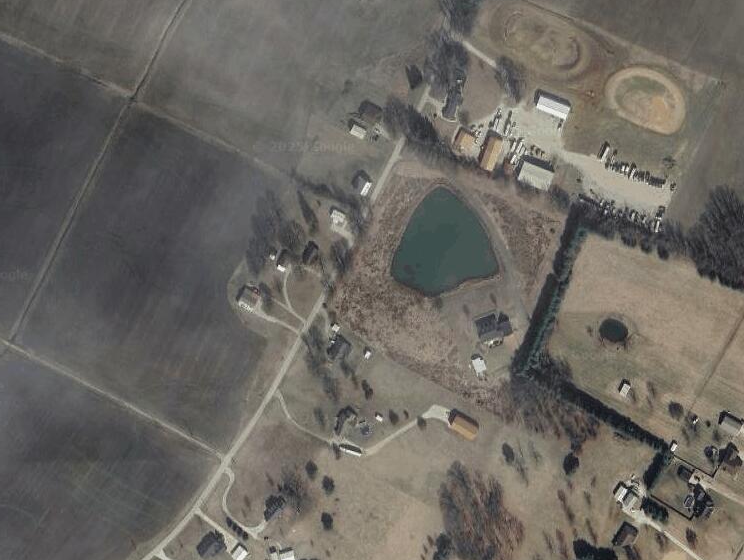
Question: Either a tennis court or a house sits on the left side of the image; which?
house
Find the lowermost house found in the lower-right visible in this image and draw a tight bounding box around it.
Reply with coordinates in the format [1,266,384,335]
[614,523,637,547]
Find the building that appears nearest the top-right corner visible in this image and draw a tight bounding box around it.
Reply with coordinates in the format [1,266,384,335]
[536,94,571,119]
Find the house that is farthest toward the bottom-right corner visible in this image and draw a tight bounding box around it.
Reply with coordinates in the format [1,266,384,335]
[688,485,718,518]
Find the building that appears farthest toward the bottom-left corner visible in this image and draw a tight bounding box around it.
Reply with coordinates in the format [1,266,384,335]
[196,529,226,558]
